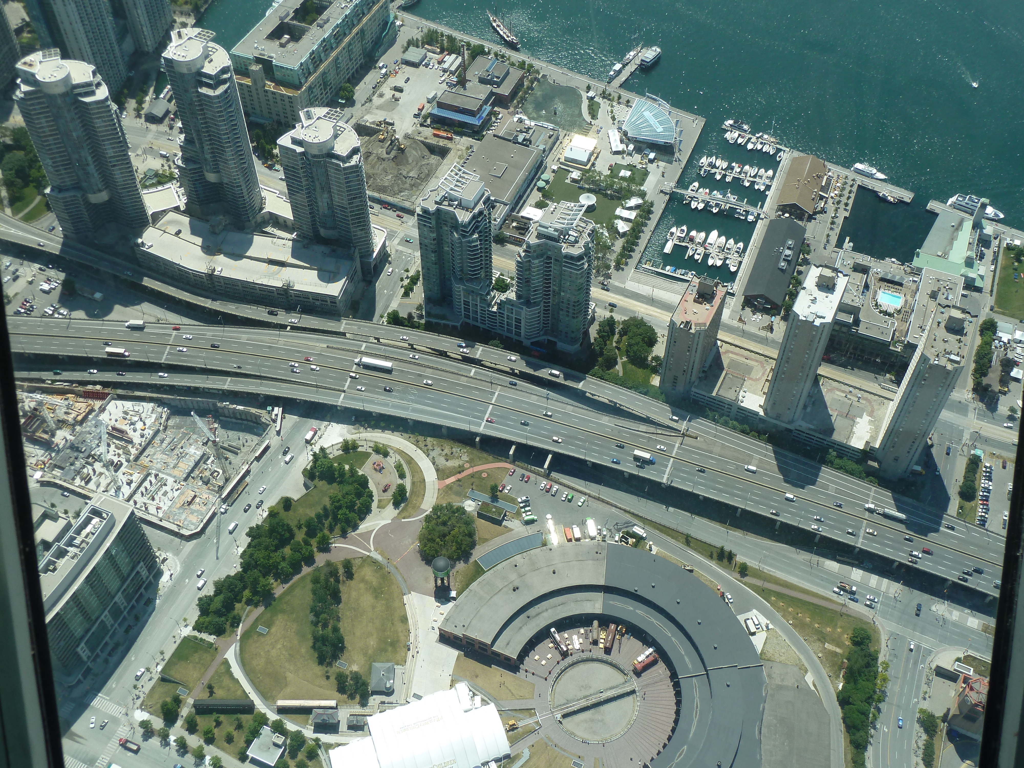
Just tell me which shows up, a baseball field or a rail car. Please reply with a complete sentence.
The image shows a rail car.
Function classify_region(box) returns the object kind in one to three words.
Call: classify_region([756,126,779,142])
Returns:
boat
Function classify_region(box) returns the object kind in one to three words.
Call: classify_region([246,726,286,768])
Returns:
building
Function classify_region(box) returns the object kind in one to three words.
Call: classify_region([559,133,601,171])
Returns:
tent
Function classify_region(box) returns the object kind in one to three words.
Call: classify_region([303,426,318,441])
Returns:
vehicle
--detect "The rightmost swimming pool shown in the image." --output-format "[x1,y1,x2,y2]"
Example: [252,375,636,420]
[878,291,902,306]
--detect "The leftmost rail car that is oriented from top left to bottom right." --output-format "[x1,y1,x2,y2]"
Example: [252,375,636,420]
[549,625,569,654]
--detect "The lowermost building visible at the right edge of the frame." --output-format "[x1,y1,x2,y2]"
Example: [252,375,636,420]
[942,674,989,746]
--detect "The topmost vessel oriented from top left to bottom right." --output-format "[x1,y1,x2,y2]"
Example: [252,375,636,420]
[488,3,523,46]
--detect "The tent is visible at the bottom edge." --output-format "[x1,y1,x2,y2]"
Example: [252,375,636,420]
[334,672,516,768]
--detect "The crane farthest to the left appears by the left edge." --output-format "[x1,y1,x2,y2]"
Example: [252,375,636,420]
[16,390,73,434]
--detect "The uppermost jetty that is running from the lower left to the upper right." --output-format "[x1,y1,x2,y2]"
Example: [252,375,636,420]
[611,47,647,88]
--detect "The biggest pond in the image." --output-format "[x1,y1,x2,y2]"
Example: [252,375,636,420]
[521,76,591,135]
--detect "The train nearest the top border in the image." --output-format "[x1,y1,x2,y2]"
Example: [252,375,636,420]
[879,380,899,393]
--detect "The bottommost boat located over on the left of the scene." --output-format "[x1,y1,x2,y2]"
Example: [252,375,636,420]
[157,84,171,98]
